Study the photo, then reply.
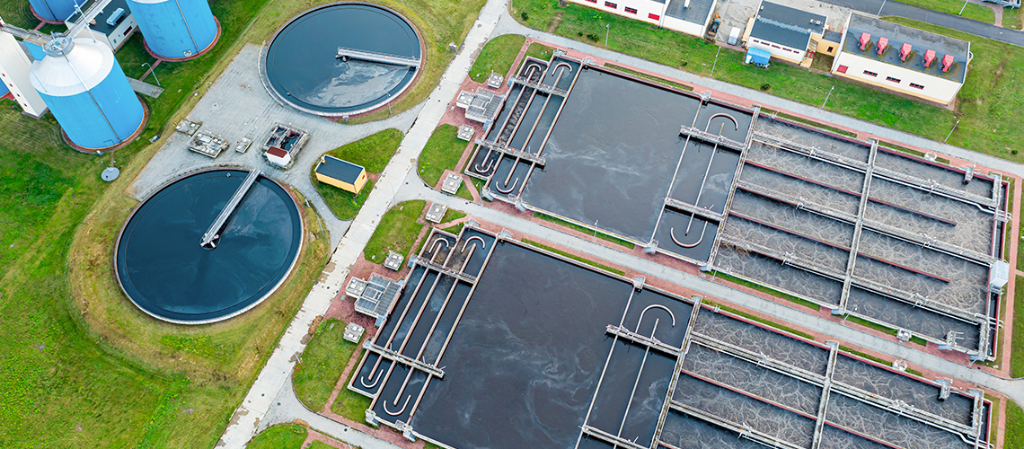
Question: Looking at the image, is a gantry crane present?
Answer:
No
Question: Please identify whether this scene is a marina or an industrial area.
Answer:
industrial area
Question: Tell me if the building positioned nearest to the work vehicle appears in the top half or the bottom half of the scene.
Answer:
top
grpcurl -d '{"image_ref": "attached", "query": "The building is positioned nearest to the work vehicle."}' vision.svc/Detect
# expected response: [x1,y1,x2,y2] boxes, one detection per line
[662,0,715,37]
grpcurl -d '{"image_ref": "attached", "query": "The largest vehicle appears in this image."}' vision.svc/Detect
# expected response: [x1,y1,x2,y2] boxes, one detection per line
[705,8,724,39]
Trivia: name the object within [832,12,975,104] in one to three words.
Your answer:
building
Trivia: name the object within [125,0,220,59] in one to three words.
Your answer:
storage tank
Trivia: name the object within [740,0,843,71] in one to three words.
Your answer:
building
